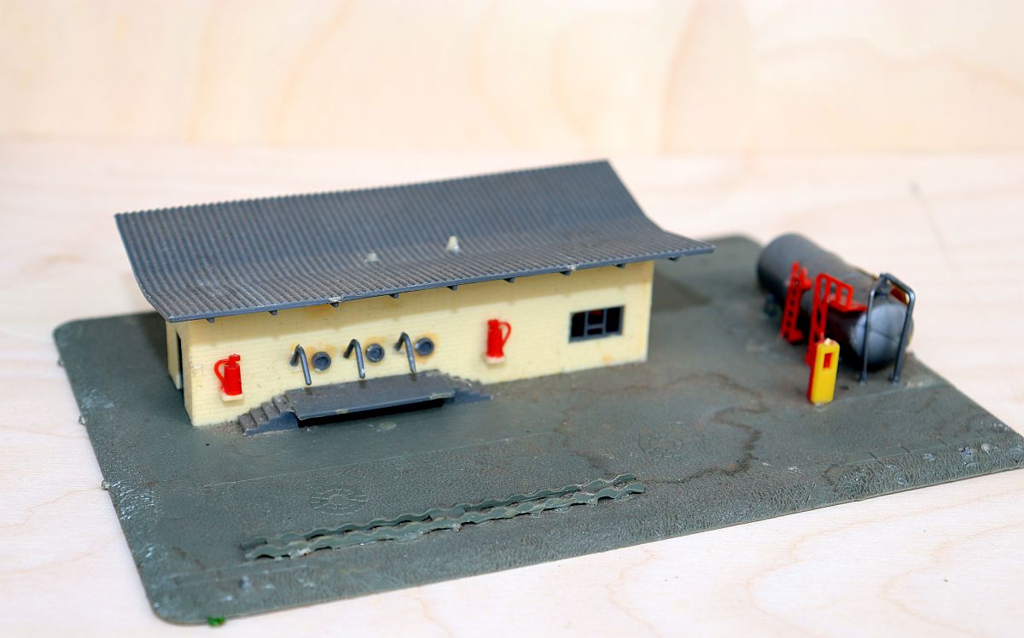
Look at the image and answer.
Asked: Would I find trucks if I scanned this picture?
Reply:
No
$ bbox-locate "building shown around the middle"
[115,159,714,426]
